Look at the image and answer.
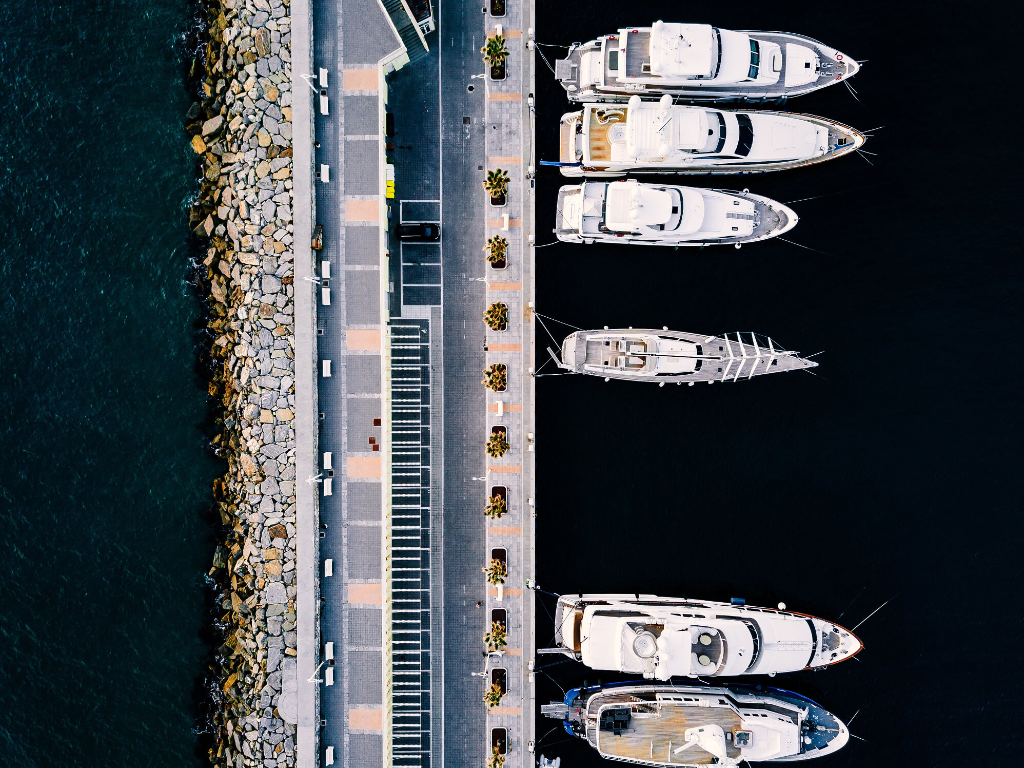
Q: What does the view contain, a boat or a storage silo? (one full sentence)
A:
This aerial view contains a boat.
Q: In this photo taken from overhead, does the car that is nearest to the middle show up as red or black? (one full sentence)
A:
The car that is nearest to the middle is black.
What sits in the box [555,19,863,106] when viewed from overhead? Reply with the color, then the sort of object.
white boat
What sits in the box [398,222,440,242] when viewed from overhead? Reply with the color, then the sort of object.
black car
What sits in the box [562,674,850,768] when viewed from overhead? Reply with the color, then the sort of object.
white vessel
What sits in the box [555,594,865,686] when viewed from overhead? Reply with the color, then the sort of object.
white boat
